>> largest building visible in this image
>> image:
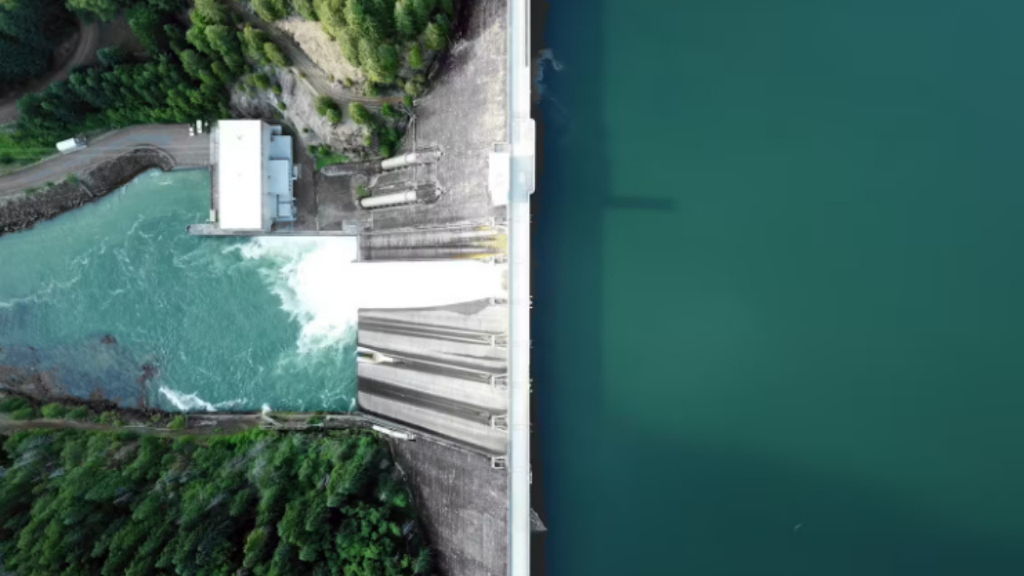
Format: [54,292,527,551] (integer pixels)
[209,120,300,234]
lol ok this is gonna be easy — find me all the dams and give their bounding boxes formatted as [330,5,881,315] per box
[355,0,549,576]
